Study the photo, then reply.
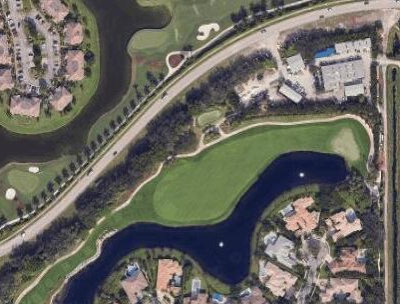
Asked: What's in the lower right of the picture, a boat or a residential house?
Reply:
residential house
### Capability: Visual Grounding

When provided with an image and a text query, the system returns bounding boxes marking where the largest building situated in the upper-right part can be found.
[322,60,365,92]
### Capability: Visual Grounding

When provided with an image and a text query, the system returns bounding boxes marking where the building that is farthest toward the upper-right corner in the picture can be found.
[336,38,371,54]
